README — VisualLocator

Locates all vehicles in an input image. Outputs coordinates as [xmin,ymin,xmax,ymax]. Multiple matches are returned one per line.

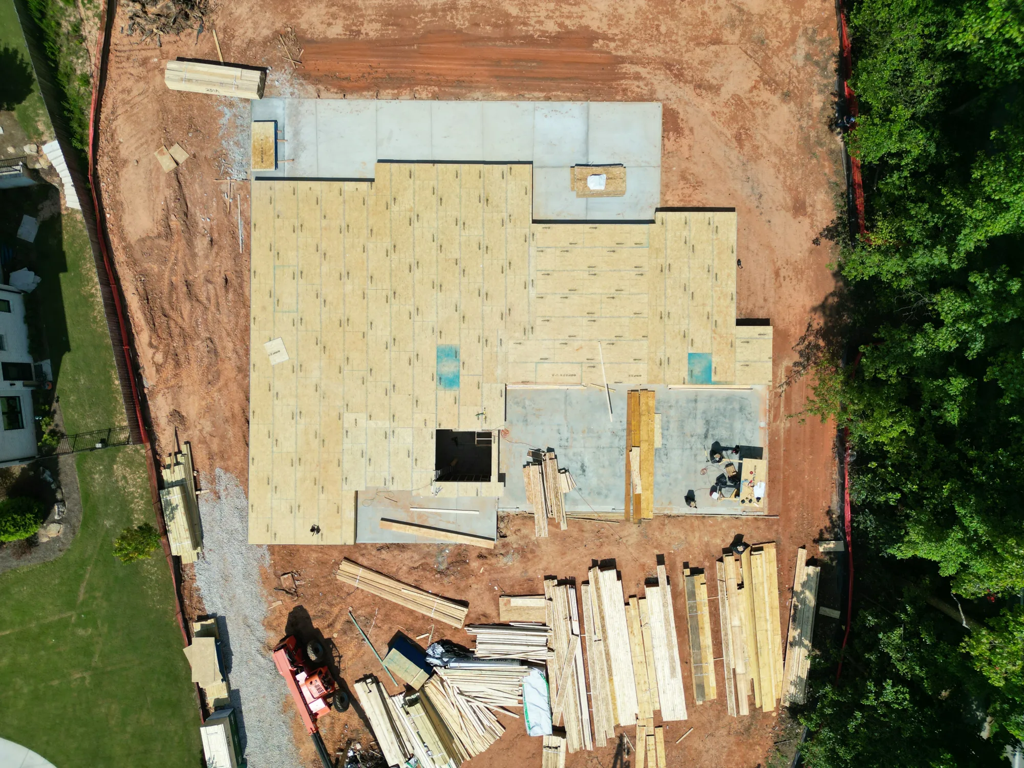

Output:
[271,631,351,768]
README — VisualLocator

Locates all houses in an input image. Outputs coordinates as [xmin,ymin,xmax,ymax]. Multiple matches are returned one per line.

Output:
[0,283,38,470]
[249,97,774,544]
